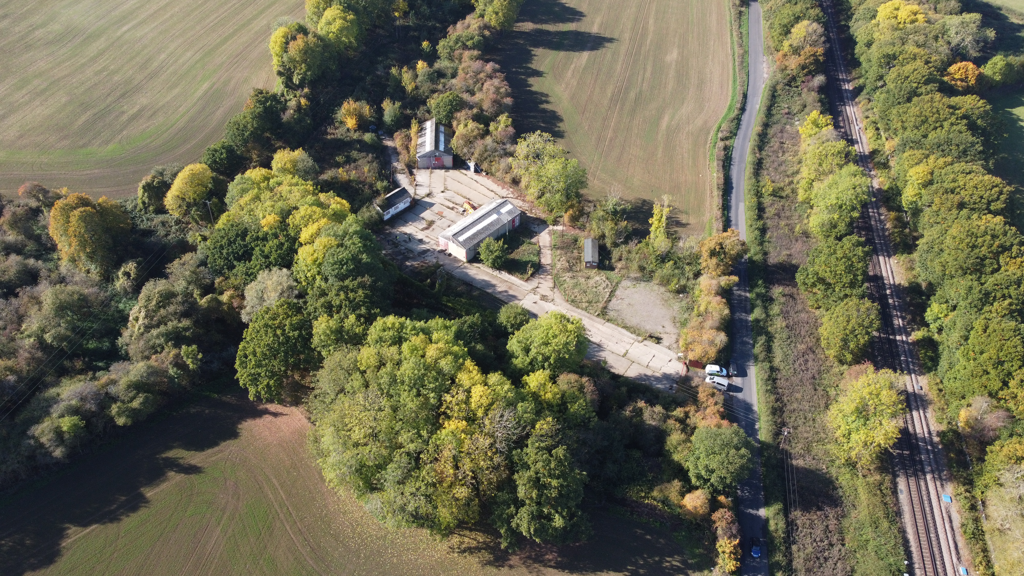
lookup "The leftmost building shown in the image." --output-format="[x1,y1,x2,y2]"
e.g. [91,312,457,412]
[369,188,412,221]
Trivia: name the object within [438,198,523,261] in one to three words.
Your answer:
building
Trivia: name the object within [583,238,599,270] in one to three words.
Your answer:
shed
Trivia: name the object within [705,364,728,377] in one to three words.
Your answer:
vehicle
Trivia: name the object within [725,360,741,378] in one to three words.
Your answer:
car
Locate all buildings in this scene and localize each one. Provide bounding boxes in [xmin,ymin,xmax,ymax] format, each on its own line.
[583,238,599,270]
[438,198,523,261]
[416,116,454,169]
[369,188,412,221]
